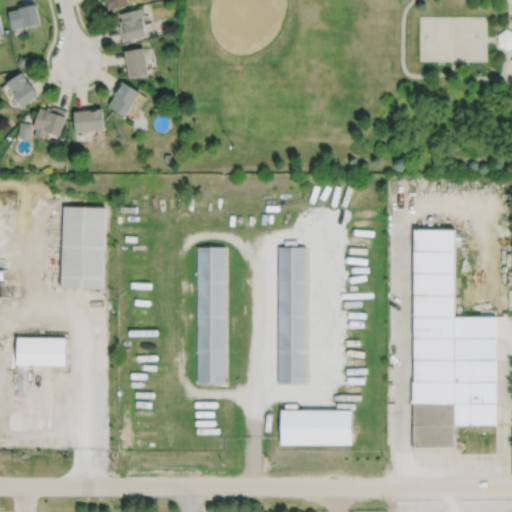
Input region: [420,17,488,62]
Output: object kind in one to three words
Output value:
sports court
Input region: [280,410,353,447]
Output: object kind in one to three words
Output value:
building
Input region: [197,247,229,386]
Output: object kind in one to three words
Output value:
shed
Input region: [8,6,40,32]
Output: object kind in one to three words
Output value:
house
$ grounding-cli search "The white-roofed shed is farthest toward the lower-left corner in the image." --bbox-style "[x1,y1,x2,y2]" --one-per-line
[14,336,66,367]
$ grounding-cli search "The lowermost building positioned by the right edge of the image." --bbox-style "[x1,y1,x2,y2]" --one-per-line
[414,228,498,448]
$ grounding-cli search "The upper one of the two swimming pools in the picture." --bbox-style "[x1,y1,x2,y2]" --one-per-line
[153,114,170,131]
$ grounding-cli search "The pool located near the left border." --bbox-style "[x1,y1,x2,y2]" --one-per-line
[16,140,32,156]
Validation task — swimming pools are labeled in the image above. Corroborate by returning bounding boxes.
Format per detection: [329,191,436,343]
[16,140,32,156]
[153,114,170,131]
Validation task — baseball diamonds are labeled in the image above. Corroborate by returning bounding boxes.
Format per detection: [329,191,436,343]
[182,0,401,119]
